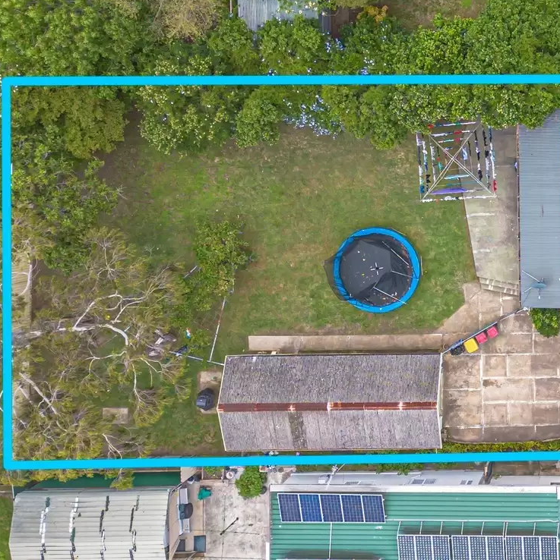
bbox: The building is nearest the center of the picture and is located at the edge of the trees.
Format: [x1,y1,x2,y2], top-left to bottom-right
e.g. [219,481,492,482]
[215,350,448,452]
